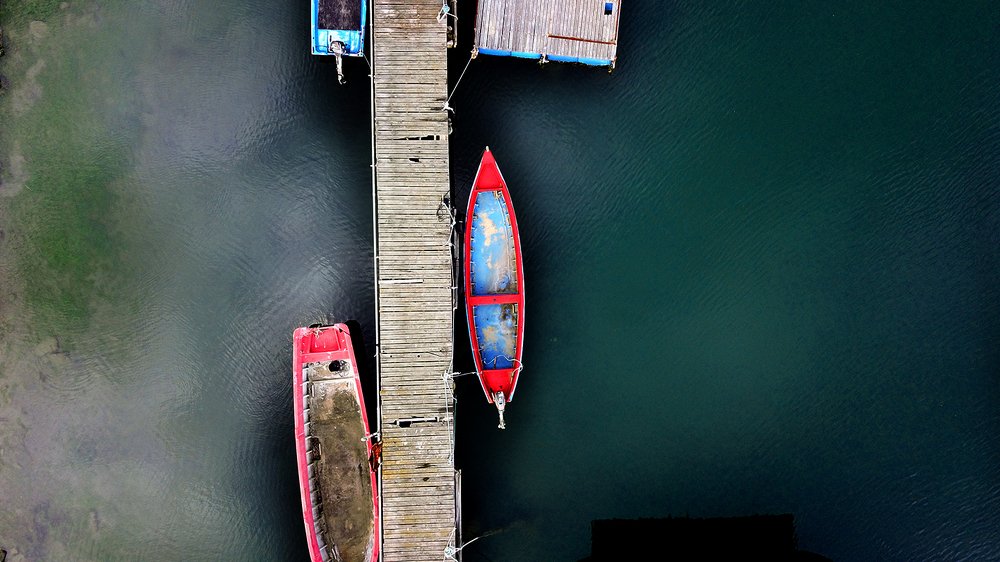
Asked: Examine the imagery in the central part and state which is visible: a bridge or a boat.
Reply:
boat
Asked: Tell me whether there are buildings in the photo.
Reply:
No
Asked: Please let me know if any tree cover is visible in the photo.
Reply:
No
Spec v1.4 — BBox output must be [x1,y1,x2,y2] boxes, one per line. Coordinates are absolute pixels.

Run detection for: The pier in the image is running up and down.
[369,0,462,562]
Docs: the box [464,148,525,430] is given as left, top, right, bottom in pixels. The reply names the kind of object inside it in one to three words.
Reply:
boat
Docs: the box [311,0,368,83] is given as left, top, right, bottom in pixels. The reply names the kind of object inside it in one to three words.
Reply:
boat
